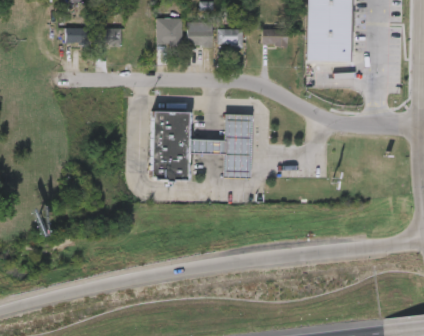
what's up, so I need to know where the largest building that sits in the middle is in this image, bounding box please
[150,112,192,184]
